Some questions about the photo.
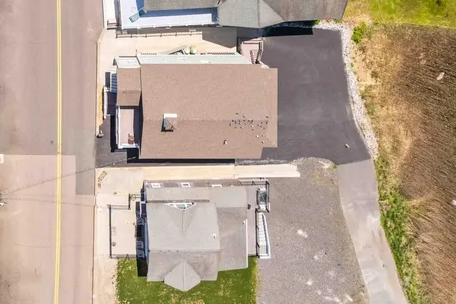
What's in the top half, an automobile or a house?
house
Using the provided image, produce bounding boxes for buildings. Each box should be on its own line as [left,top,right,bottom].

[119,0,348,30]
[134,174,272,292]
[103,40,279,159]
